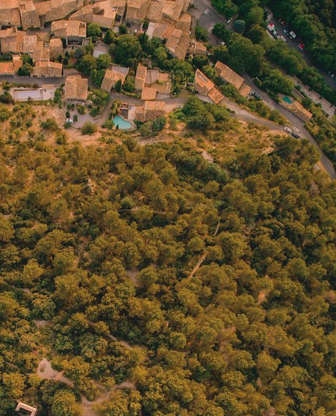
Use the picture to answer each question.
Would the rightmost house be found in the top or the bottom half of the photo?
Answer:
top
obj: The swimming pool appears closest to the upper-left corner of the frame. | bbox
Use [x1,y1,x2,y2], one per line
[11,85,46,103]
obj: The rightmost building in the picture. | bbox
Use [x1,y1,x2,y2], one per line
[285,98,315,123]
